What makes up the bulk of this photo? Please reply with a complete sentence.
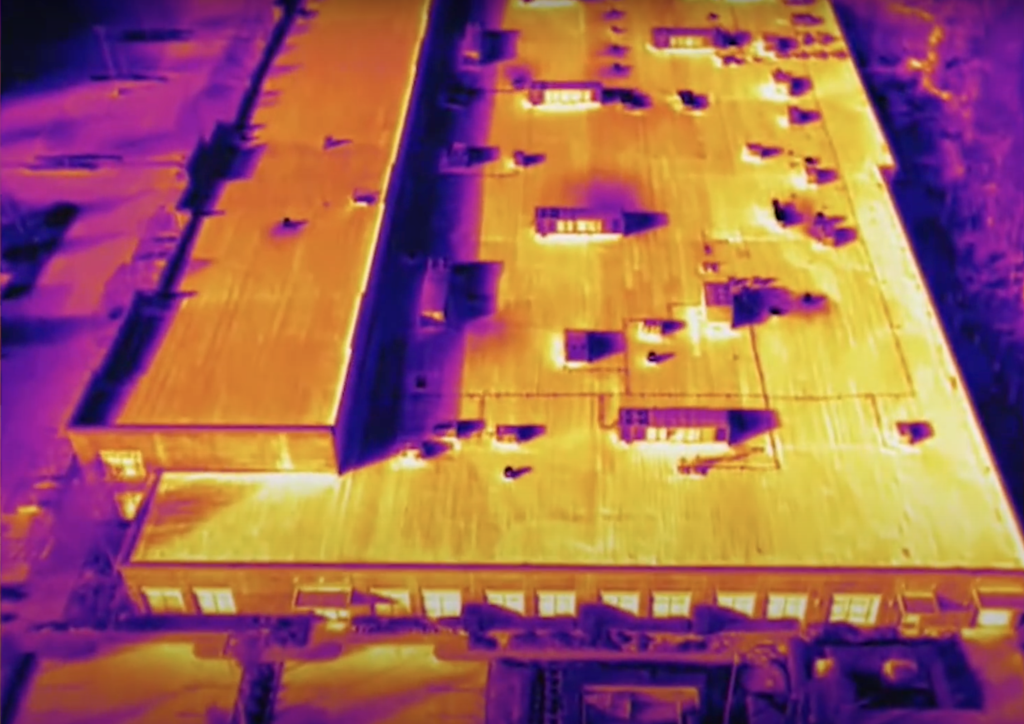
The bulk of the photo consists of buildings.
